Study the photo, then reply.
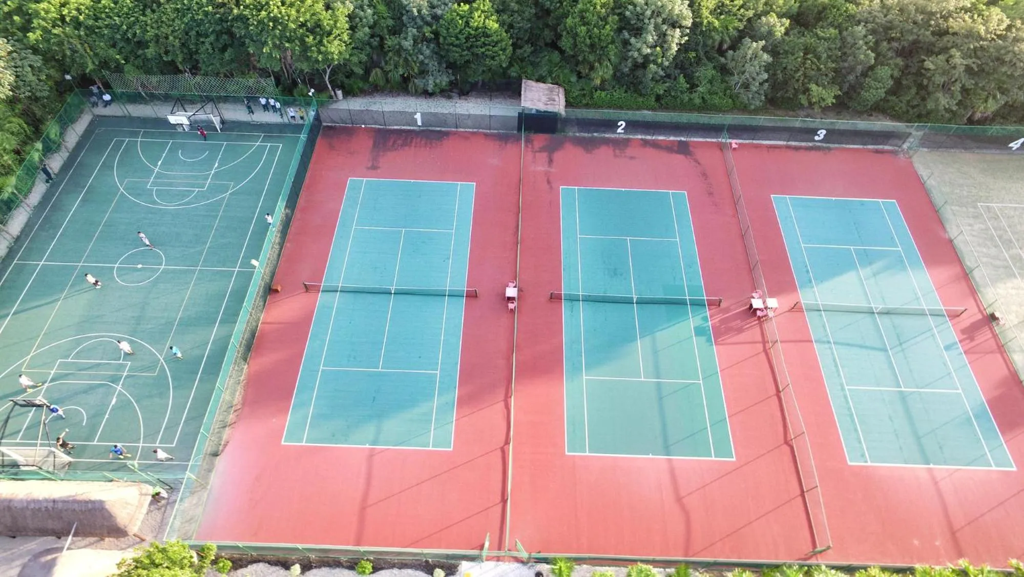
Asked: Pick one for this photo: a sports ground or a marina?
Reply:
sports ground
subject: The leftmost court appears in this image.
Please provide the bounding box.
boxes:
[0,114,310,488]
